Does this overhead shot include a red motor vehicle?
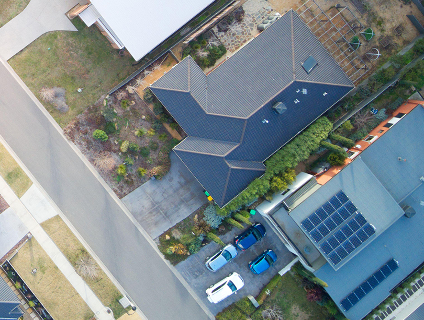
No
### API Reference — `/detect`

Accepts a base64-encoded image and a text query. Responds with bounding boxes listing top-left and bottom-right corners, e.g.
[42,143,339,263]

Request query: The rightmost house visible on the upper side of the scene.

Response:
[148,9,356,207]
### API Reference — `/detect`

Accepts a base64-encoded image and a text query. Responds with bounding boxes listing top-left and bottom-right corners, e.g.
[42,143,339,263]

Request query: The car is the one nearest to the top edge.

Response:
[233,222,270,254]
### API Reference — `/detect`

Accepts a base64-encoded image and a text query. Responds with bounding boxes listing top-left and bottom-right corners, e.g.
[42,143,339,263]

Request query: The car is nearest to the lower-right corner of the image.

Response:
[246,247,279,278]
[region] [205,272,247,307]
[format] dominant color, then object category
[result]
white car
